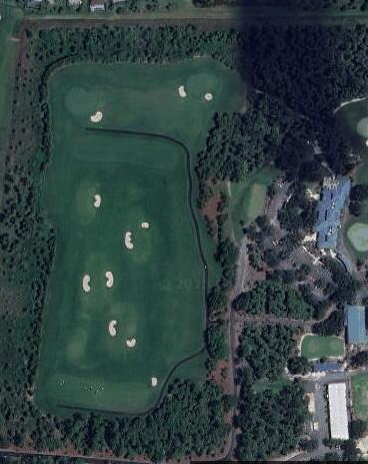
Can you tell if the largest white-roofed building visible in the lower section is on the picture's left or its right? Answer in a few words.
right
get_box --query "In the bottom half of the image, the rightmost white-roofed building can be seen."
[328,381,349,439]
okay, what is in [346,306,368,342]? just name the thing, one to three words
building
